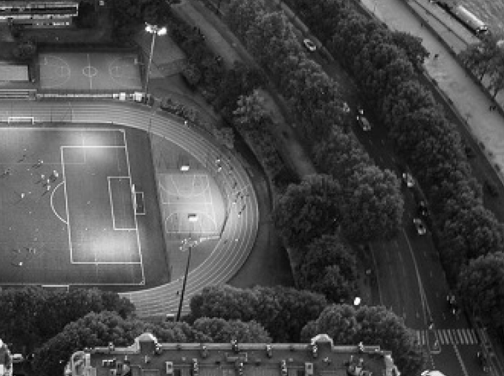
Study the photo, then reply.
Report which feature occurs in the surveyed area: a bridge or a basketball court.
basketball court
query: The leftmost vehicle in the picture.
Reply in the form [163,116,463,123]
[303,37,316,49]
